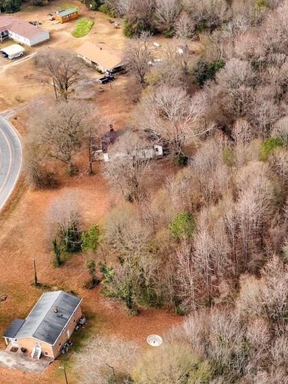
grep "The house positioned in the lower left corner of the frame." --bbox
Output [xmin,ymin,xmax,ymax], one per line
[2,290,82,364]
